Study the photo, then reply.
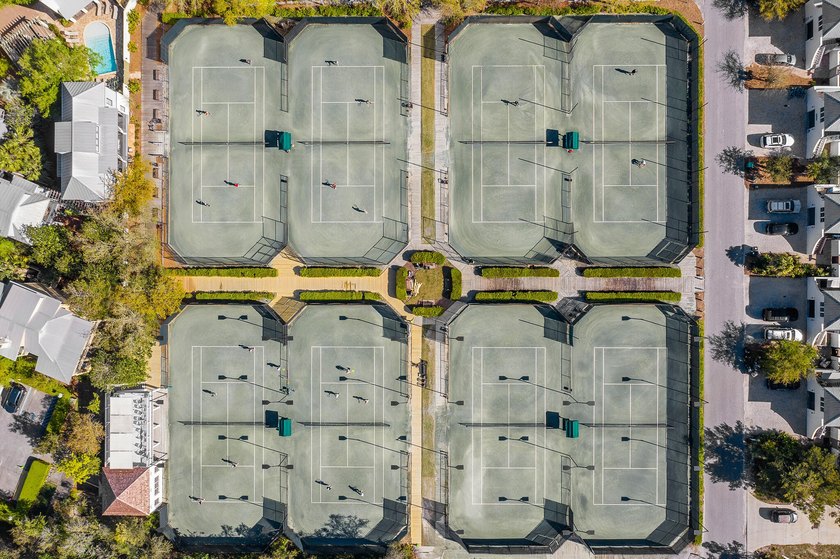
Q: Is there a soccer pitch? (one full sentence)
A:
No, the scene contains no soccer pitch.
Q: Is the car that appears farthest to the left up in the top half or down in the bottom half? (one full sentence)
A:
The car that appears farthest to the left sits in the bottom half of the picture.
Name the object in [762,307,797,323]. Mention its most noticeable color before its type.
black car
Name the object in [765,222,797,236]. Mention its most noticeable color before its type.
black car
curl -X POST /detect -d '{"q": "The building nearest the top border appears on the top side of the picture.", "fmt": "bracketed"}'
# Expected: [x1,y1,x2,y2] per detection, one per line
[43,0,97,29]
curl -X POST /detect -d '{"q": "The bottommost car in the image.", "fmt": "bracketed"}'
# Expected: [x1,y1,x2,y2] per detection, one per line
[770,508,797,524]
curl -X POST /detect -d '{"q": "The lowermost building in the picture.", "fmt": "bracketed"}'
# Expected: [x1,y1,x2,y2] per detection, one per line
[101,459,162,516]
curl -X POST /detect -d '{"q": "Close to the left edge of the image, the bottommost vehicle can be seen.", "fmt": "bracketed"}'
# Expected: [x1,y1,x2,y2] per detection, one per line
[3,382,26,414]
